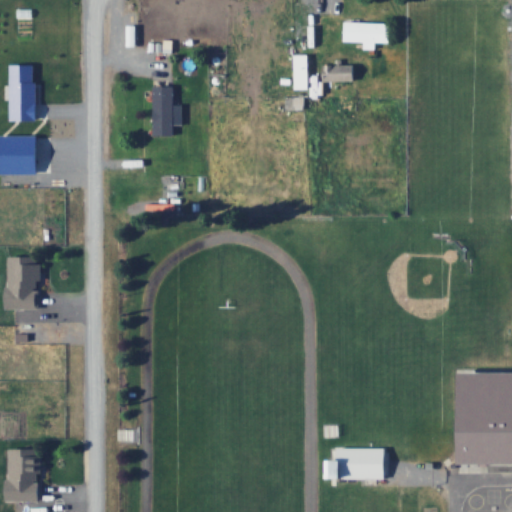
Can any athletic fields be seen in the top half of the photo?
Yes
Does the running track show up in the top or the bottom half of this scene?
bottom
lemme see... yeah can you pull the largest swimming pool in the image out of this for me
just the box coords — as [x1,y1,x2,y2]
[182,57,196,74]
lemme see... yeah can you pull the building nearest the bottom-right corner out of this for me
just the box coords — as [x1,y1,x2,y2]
[456,370,512,472]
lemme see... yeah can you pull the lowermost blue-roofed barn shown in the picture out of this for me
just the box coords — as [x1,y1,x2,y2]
[0,136,36,175]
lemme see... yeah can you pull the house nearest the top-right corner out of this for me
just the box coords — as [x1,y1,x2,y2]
[342,20,388,55]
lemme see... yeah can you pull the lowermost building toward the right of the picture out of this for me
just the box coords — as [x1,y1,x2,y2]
[323,444,388,483]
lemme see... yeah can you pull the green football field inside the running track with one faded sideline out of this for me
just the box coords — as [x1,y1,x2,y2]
[160,262,300,512]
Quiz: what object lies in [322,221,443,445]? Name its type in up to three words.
sports field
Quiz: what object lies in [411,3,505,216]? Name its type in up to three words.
sports field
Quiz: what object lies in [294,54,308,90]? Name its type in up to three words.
building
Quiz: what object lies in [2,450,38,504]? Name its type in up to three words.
house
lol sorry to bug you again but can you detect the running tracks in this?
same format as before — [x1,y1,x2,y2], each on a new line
[140,230,319,512]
